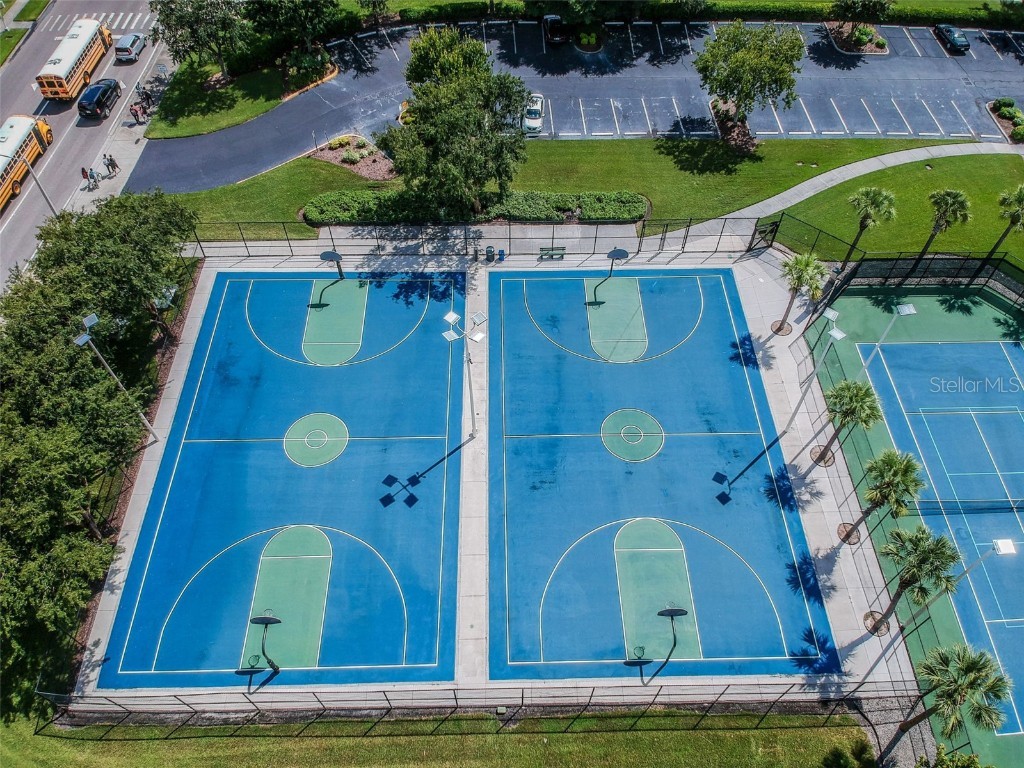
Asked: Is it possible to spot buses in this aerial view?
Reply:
Yes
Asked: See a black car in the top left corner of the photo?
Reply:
Yes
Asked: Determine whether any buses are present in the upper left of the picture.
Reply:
Yes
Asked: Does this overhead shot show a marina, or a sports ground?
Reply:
sports ground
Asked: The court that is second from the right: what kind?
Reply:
basketball court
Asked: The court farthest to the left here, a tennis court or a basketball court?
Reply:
basketball court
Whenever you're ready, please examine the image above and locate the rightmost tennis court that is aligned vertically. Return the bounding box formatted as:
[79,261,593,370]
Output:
[804,286,1024,768]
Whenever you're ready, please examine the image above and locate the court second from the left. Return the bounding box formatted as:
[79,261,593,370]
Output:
[488,269,843,680]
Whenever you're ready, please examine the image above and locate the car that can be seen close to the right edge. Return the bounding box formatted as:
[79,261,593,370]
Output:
[937,22,974,52]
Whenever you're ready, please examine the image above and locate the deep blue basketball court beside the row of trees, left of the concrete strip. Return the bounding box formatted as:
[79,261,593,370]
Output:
[92,271,465,690]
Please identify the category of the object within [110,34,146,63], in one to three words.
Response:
car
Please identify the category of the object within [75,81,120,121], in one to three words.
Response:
car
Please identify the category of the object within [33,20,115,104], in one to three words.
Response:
bus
